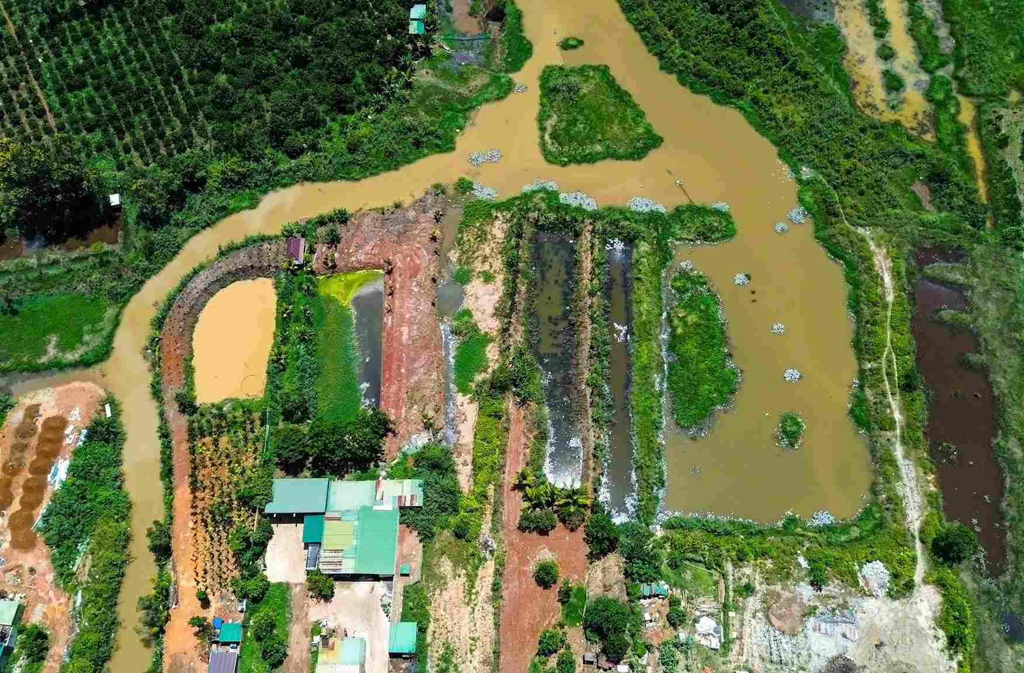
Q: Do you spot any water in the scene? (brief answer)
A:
Yes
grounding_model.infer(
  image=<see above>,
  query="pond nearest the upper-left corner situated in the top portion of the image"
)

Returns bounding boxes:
[0,220,124,262]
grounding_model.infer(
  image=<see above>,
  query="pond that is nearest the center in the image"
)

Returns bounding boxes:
[315,270,385,416]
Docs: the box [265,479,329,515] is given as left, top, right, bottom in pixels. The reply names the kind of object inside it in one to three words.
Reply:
shed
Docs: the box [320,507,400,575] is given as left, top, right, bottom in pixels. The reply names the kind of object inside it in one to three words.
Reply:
house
